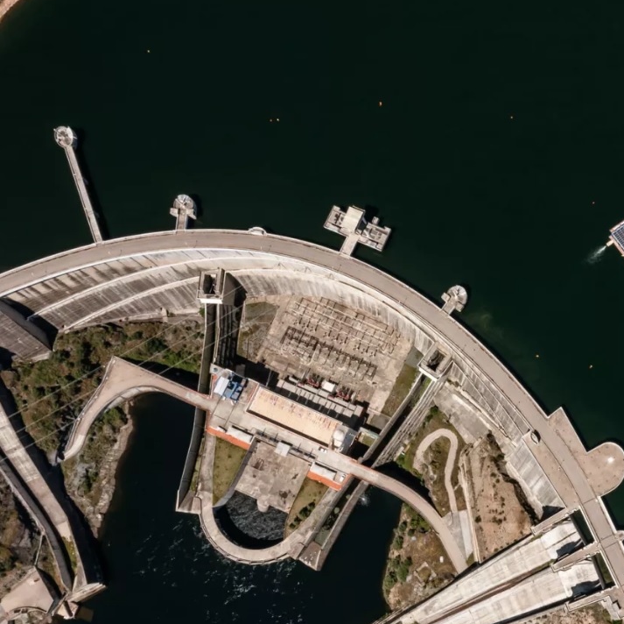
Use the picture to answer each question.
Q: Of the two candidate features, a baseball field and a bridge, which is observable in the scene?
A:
bridge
